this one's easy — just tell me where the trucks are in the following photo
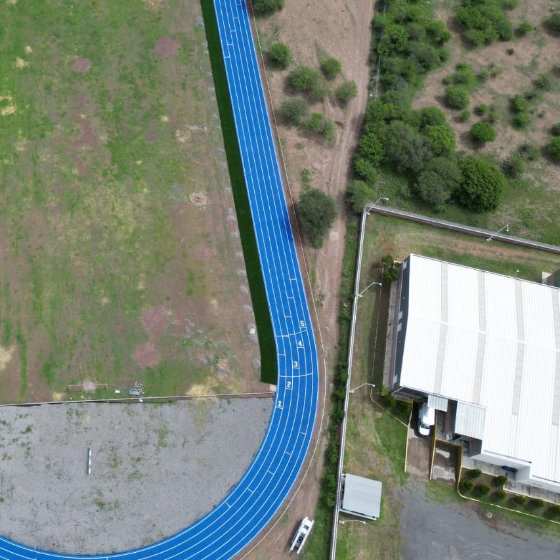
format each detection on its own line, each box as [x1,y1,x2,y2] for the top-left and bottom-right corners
[293,516,320,554]
[419,398,442,435]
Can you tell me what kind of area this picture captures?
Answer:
sports ground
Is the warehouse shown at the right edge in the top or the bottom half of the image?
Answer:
bottom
